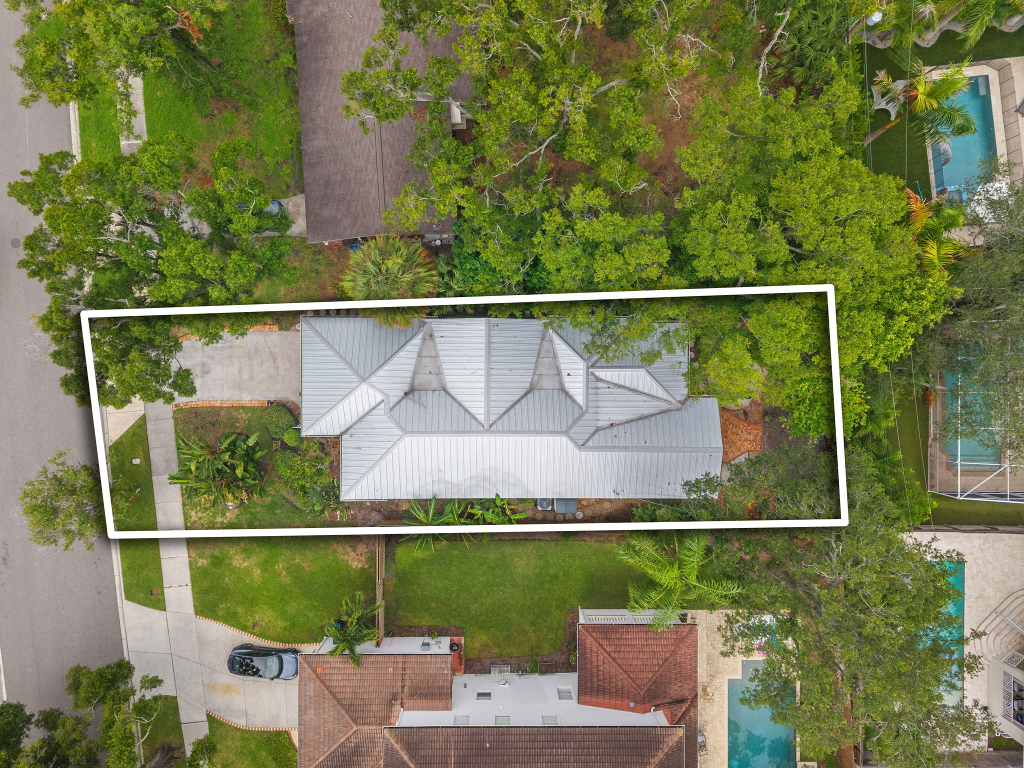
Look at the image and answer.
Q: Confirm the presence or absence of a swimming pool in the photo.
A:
Yes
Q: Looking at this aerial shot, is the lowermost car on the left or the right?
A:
left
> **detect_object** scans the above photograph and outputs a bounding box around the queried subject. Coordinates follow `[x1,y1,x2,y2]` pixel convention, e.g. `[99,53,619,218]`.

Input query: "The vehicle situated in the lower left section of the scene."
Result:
[222,645,295,689]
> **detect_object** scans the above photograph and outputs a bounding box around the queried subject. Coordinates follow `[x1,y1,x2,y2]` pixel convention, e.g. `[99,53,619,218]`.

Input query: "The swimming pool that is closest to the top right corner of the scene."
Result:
[924,66,1013,217]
